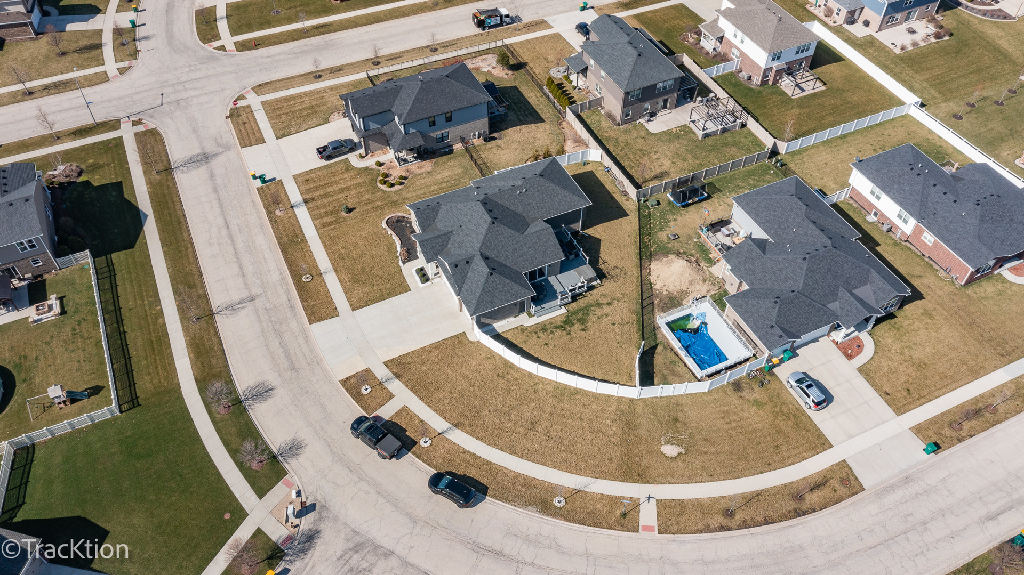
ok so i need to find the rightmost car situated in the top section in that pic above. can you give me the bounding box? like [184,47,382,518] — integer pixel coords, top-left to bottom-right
[574,23,589,41]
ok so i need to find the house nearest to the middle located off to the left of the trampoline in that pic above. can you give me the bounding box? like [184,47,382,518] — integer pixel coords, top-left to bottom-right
[405,156,592,335]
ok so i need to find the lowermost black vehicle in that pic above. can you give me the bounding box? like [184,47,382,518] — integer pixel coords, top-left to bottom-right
[425,471,481,511]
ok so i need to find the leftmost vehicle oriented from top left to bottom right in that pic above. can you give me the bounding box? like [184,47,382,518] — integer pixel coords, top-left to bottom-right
[345,412,404,462]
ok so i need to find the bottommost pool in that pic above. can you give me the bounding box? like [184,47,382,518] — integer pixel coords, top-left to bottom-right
[656,301,746,378]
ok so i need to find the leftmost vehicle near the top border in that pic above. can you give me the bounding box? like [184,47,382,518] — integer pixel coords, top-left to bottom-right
[474,3,513,30]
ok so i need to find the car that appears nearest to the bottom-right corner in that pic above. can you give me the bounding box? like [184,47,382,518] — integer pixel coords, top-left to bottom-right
[784,370,830,412]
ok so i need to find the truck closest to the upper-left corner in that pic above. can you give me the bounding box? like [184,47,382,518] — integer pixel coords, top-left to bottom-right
[315,137,358,161]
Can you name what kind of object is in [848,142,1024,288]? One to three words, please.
house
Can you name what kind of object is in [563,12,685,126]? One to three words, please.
house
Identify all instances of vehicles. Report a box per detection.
[474,3,513,30]
[784,370,830,412]
[345,412,404,462]
[315,137,358,161]
[574,23,589,41]
[425,471,481,511]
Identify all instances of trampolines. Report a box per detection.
[667,177,708,209]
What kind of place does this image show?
residential area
